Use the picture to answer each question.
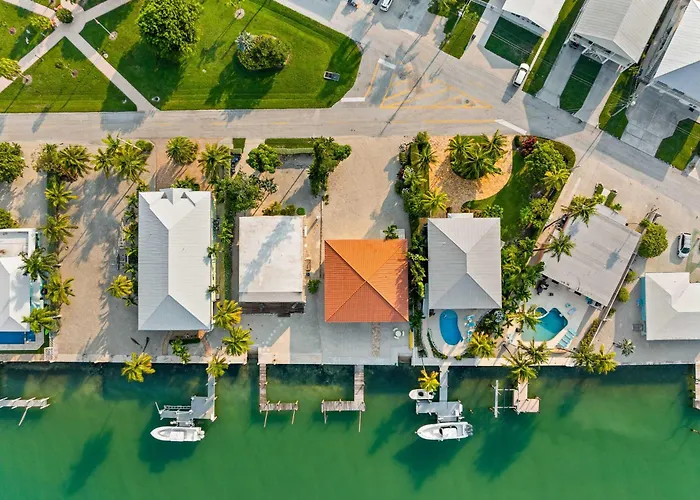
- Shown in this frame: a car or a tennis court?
car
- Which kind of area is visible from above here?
residential area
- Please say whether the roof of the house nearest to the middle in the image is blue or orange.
orange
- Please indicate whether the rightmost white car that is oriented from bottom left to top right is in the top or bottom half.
top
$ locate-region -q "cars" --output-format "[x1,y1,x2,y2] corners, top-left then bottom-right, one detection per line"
[676,232,693,257]
[347,0,360,8]
[377,0,394,14]
[511,64,531,87]
[565,34,579,54]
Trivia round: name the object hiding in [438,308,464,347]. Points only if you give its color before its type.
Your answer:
blue swimming pool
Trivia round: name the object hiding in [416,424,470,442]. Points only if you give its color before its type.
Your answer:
white boat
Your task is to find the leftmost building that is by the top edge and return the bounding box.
[497,0,563,41]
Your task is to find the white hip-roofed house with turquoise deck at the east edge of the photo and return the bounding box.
[632,272,700,340]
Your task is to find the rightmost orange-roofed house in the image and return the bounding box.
[323,239,409,324]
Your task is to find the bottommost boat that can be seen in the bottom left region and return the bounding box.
[148,428,202,443]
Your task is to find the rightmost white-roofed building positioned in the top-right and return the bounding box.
[642,0,700,112]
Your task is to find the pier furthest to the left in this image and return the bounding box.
[0,398,50,425]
